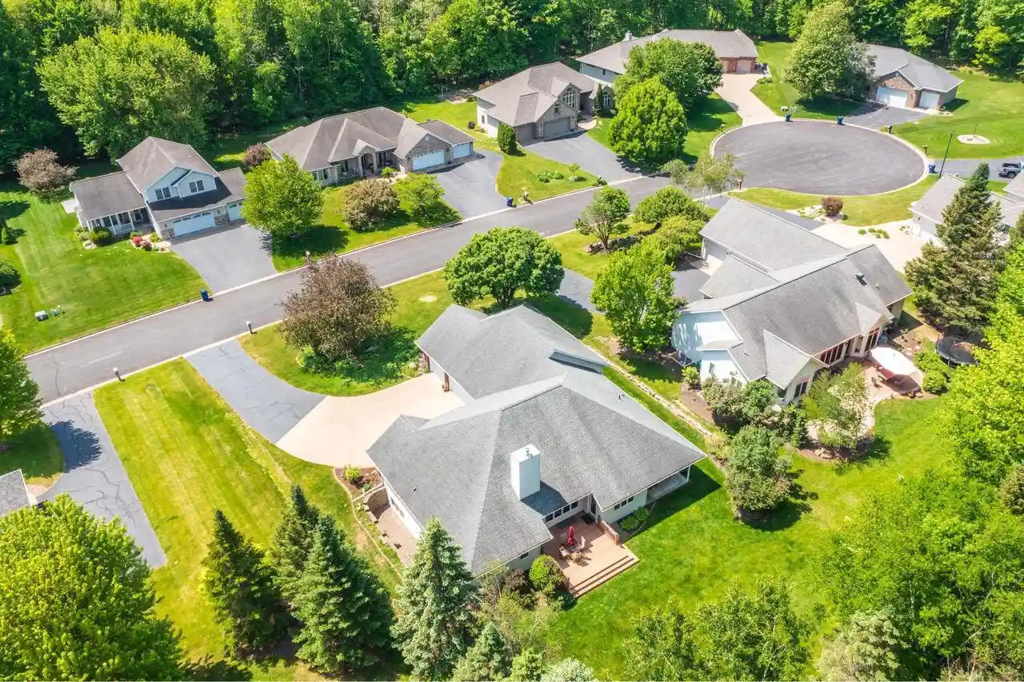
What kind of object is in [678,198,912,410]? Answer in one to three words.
house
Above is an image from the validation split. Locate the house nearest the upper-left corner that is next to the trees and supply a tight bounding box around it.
[67,135,252,240]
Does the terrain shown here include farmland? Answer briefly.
No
